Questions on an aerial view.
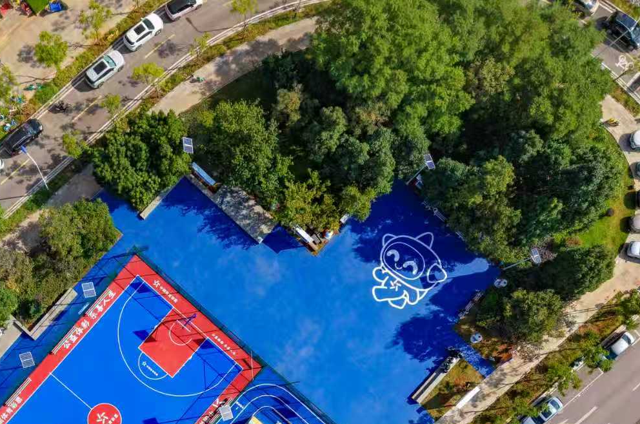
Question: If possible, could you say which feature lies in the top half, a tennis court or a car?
car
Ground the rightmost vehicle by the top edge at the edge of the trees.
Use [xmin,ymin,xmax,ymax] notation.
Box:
[603,9,640,52]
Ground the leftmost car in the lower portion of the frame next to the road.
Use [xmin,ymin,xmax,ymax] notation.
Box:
[518,394,563,424]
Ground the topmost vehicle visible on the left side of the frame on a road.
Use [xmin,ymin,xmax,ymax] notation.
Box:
[162,0,203,27]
